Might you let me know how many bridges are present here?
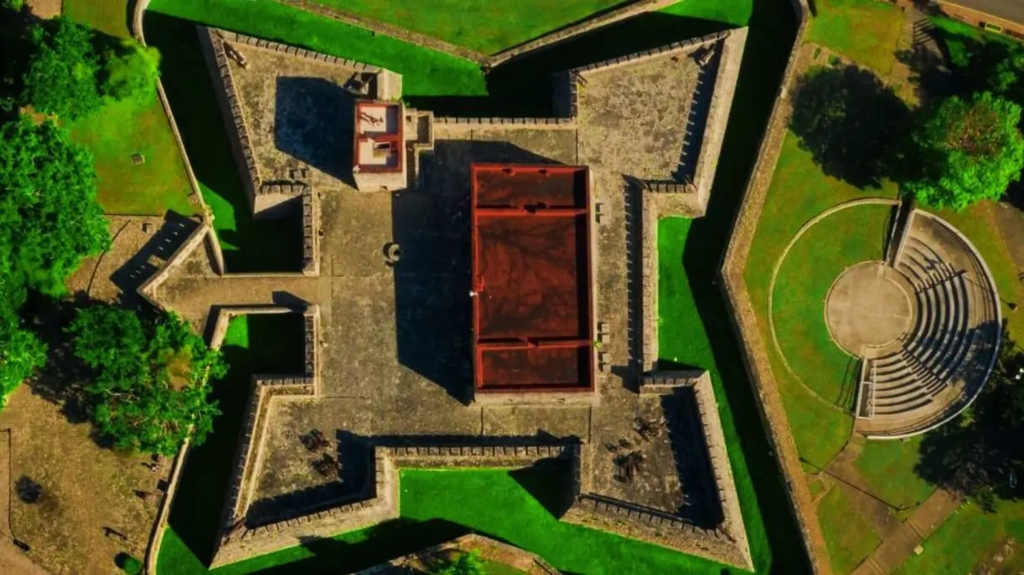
1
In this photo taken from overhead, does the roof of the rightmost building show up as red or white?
red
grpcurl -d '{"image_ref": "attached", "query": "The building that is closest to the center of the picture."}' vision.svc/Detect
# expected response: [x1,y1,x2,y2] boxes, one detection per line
[469,165,599,406]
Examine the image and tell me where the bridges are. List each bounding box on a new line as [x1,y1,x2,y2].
[214,273,332,322]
